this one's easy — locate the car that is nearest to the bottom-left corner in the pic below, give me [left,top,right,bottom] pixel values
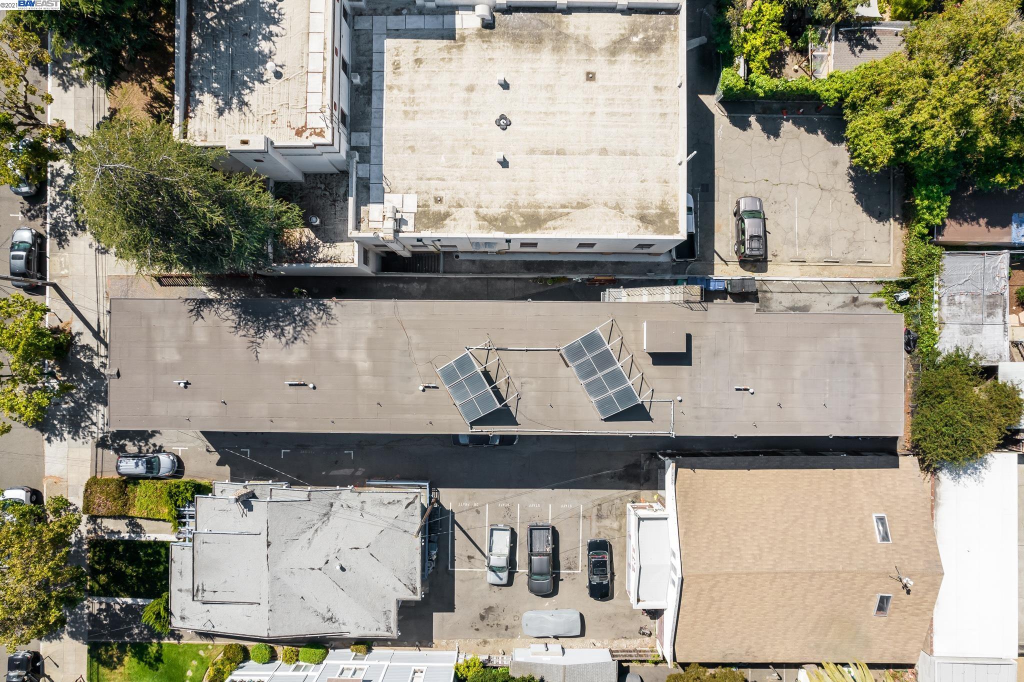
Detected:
[9,646,42,682]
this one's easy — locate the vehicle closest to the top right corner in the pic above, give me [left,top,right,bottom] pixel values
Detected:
[735,198,767,262]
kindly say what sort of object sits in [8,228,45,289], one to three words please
car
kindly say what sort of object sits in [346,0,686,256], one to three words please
building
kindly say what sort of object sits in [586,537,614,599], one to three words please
car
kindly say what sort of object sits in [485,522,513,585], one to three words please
truck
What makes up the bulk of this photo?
buildings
